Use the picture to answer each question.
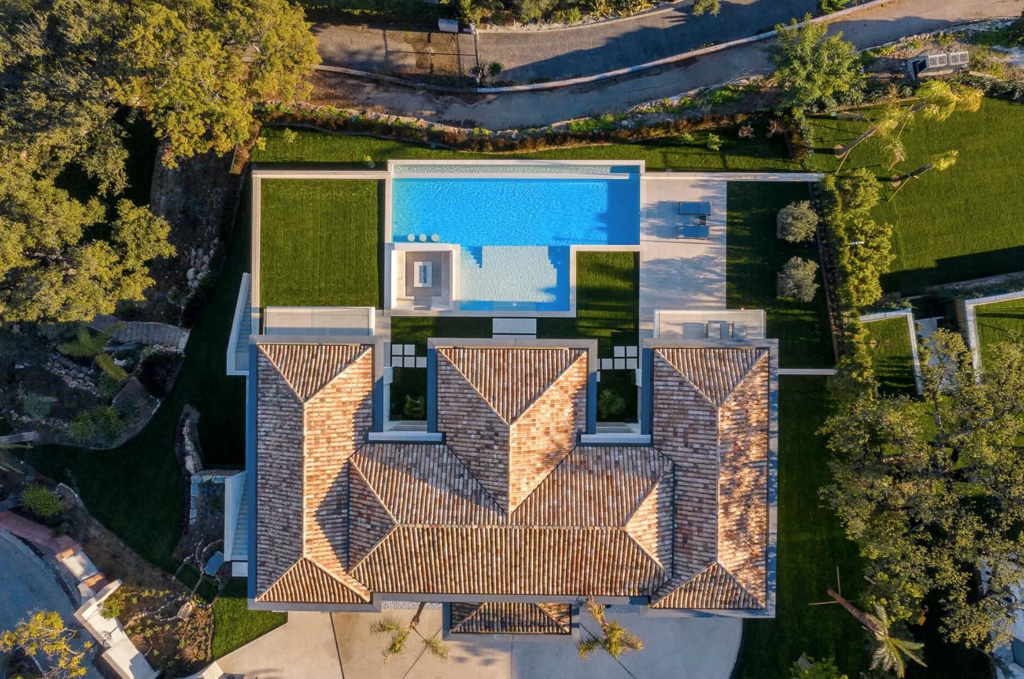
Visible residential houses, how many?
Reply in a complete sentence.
In total, there is 1 residential house in the scene.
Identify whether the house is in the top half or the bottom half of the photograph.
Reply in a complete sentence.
It is in the bottom half that the house appears.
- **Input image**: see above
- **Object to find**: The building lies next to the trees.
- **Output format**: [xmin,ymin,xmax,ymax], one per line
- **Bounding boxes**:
[247,309,778,641]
